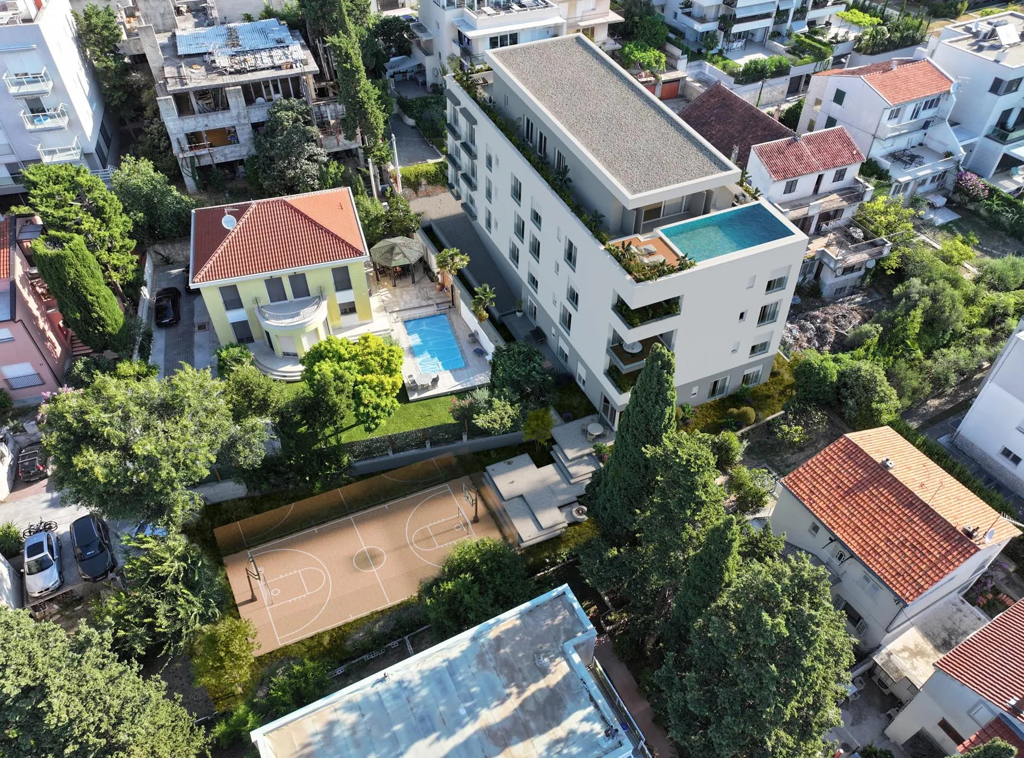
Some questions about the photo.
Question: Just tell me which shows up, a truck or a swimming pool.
swimming pool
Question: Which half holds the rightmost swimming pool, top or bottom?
top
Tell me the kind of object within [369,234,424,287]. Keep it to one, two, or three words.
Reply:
gazebo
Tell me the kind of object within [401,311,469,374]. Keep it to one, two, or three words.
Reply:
swimming pool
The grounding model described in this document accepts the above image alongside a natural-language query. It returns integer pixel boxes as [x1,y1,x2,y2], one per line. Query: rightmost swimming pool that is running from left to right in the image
[669,209,793,261]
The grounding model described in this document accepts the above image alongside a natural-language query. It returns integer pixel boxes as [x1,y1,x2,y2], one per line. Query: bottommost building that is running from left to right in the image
[250,584,629,758]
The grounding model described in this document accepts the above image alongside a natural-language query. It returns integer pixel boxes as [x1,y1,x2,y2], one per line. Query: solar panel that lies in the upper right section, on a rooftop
[977,34,1018,60]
